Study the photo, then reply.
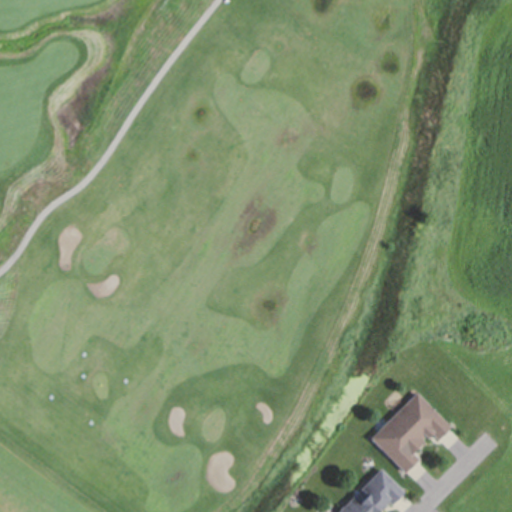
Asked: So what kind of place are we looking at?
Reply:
golf course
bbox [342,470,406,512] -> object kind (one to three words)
house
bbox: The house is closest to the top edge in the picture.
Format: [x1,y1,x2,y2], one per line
[372,395,452,474]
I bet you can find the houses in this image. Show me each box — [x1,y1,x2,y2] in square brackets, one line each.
[342,470,406,512]
[372,395,452,474]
